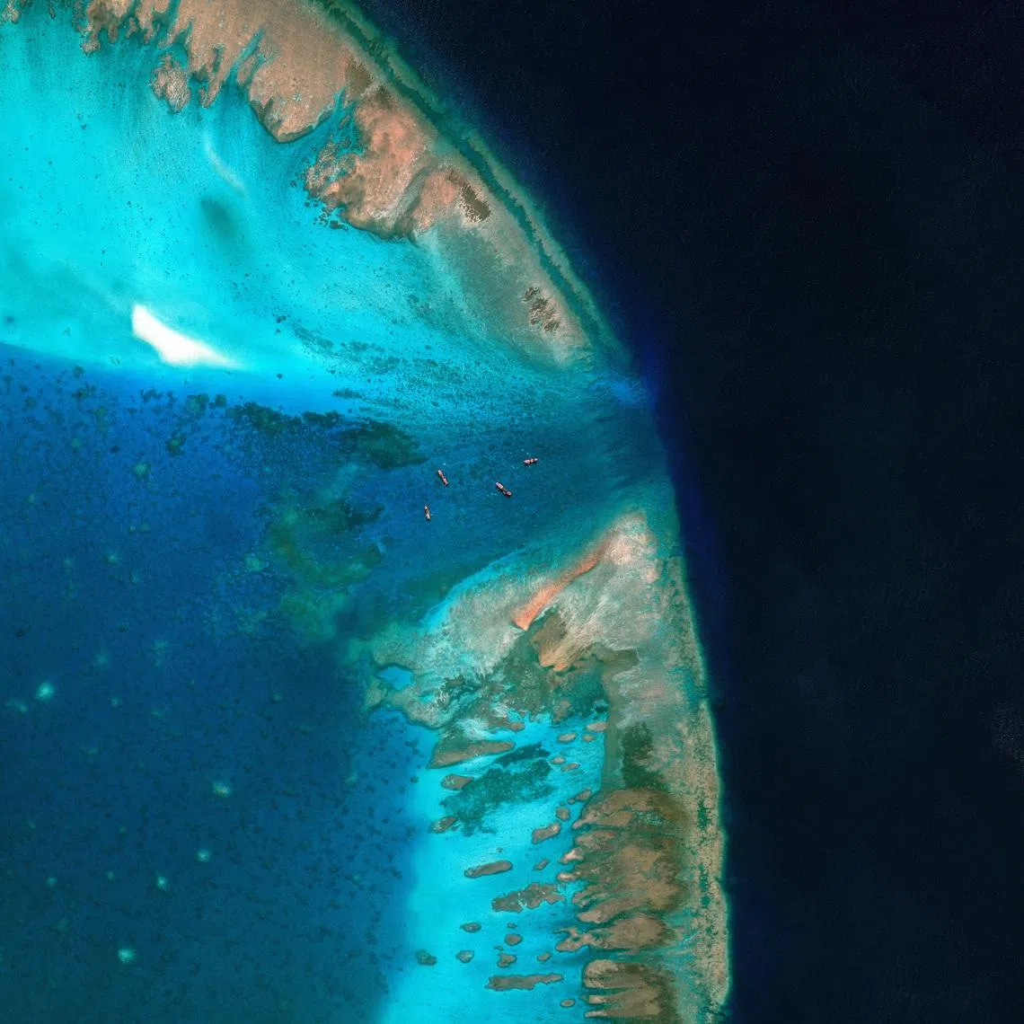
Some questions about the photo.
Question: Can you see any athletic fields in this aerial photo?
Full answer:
No, the photo shows no athletic field.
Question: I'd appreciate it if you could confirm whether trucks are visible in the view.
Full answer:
No, I find no truck anywhere in the image.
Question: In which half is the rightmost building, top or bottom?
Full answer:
You can find the rightmost building in the bottom half.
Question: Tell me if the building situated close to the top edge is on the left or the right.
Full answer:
The building situated close to the top edge is on the left side of the image.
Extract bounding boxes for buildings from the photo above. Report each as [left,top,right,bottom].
[360,498,735,1024]
[0,0,647,393]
